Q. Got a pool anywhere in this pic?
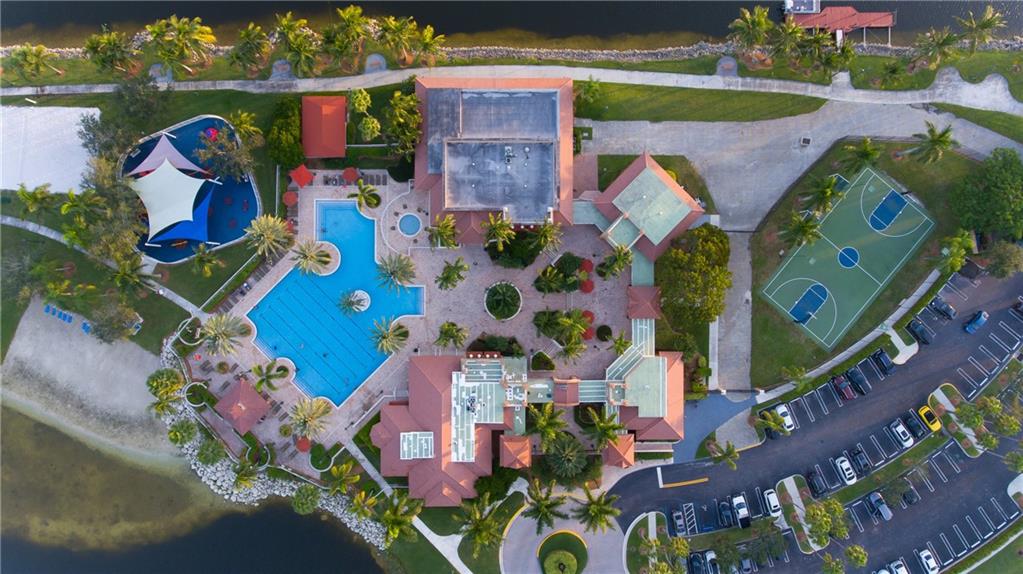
Yes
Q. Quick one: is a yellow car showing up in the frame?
Yes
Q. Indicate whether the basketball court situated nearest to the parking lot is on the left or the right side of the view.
right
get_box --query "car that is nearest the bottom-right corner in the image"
[918,547,941,574]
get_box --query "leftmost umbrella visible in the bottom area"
[296,435,312,451]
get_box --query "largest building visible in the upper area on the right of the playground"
[415,78,600,245]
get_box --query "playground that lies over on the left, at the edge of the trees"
[124,110,261,264]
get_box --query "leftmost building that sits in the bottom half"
[213,376,273,436]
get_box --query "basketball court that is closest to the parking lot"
[759,165,939,353]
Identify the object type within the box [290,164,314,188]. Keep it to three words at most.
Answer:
umbrella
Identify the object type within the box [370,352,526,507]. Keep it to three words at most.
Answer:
building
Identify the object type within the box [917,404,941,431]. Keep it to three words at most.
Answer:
car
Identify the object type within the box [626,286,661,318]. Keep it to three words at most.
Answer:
building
